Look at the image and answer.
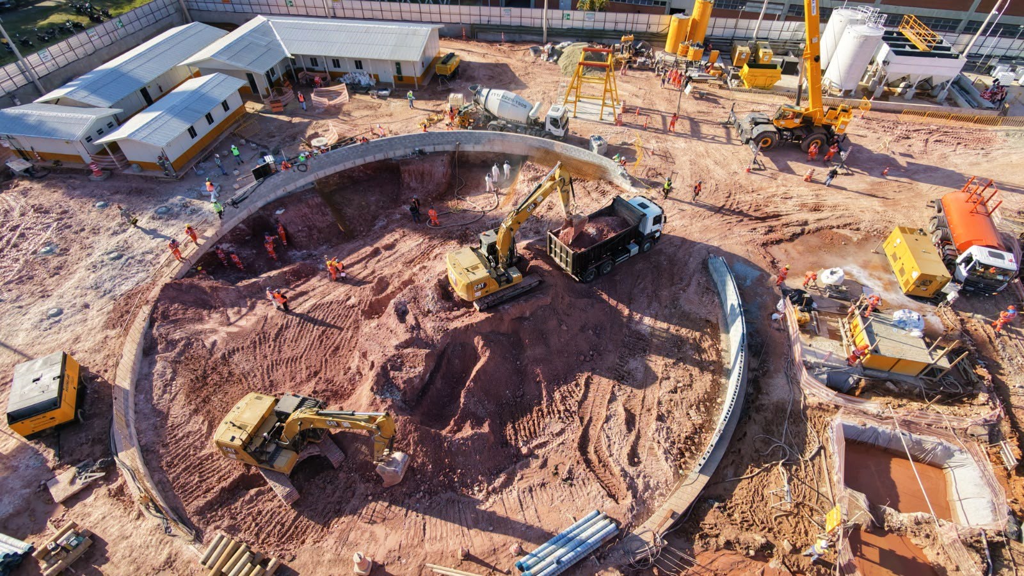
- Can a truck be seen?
Yes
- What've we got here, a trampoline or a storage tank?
storage tank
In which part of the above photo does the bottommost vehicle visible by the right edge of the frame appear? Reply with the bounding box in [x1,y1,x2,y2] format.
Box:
[926,182,1024,311]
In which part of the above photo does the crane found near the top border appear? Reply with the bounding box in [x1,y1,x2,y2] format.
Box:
[730,0,842,170]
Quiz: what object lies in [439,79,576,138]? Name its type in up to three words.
truck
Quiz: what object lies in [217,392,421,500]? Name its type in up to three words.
work vehicle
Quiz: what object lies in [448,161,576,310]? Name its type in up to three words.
work vehicle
